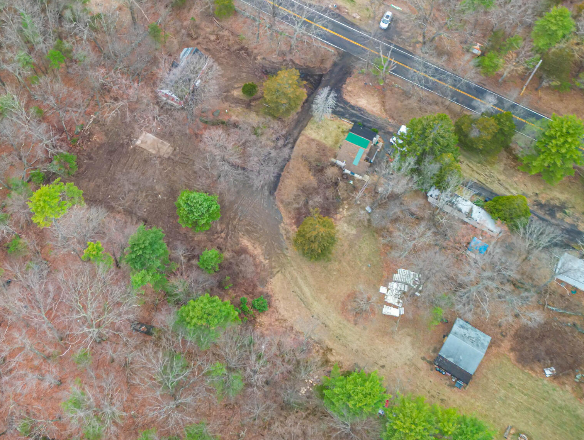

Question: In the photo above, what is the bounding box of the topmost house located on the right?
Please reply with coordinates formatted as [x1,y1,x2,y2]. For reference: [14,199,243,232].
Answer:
[334,122,379,174]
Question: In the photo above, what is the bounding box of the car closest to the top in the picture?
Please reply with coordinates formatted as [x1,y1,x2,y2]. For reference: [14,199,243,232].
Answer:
[379,12,392,29]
